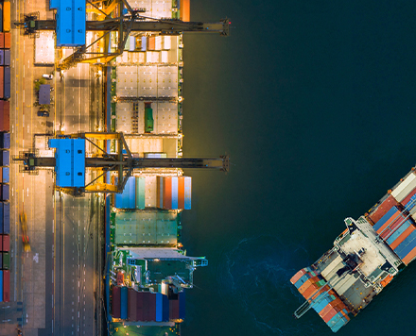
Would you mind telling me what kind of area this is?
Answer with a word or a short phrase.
port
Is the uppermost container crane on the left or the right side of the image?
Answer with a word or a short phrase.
left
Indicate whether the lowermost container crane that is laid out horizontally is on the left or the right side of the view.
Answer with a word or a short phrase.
left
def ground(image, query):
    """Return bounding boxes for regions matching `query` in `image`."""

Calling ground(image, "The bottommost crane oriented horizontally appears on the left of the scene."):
[14,125,230,202]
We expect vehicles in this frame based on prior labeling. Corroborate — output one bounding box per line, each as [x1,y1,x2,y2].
[42,74,53,80]
[20,214,32,253]
[38,112,49,117]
